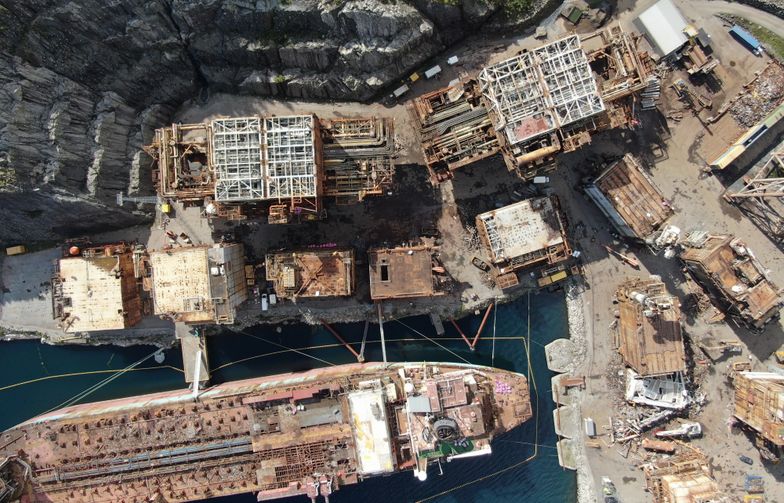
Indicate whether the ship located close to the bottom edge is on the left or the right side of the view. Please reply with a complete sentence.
You can find the ship located close to the bottom edge on the left side of the picture.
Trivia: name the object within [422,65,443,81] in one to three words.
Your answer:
vehicle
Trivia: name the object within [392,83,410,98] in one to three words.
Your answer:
vehicle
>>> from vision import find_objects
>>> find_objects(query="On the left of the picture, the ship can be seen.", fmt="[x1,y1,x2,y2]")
[0,349,534,503]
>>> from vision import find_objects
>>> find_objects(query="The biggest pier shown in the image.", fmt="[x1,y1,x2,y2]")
[174,321,212,388]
